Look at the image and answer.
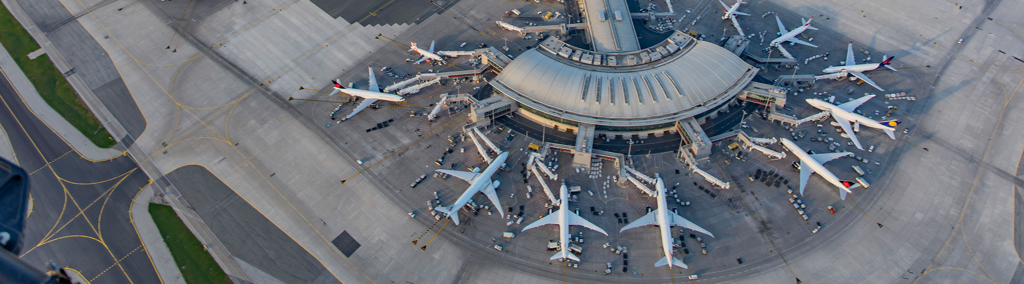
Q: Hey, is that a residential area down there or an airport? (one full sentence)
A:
It's an airport.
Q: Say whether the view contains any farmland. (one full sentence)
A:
No, there is no farmland in the image.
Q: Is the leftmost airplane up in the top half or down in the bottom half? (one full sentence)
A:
It is in the top half that the leftmost airplane appears.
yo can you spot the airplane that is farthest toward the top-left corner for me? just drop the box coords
[330,63,405,118]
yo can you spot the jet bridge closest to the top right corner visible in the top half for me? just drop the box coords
[812,72,851,84]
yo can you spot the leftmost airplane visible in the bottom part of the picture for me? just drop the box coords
[436,152,509,223]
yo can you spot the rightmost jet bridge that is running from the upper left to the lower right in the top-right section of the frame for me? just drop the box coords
[773,41,796,59]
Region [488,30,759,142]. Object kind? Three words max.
building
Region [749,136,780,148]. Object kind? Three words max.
jet bridge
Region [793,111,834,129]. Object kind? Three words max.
jet bridge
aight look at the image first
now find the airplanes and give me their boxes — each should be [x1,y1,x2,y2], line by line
[436,152,509,223]
[330,63,405,118]
[806,94,901,149]
[522,184,608,258]
[769,12,820,47]
[408,40,442,63]
[780,139,859,199]
[822,39,895,90]
[619,176,709,263]
[720,0,750,19]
